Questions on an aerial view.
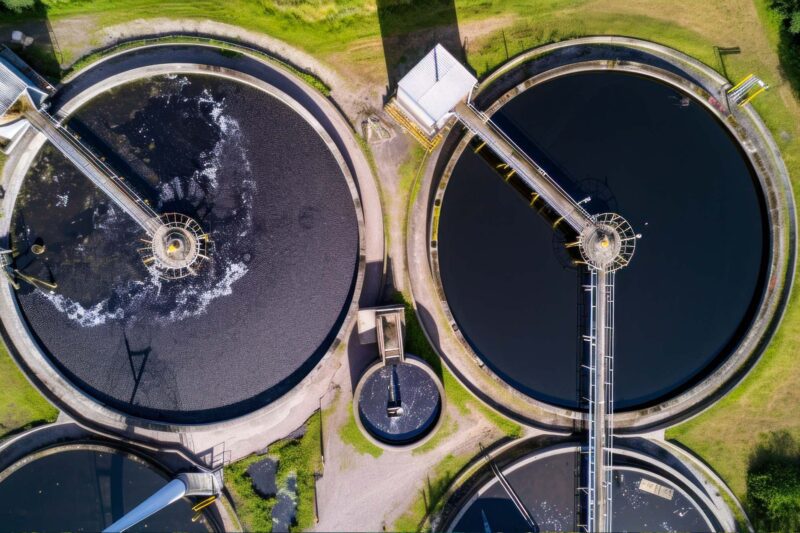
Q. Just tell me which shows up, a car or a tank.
tank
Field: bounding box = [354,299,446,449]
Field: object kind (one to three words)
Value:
storage tank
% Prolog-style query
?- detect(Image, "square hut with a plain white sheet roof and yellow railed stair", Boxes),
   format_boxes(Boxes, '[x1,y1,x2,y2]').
[396,43,477,140]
